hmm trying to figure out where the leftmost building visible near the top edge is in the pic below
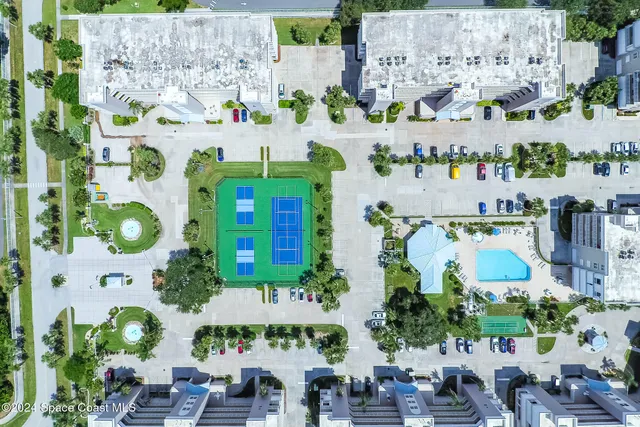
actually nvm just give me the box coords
[73,8,279,124]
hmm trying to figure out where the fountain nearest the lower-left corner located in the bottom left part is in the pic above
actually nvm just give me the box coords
[121,321,144,343]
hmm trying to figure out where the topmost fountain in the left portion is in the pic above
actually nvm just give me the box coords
[119,218,142,241]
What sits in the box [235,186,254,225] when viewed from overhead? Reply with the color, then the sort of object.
blue sports court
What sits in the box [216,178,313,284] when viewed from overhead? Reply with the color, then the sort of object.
green sports court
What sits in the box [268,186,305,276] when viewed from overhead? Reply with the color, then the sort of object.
blue tennis court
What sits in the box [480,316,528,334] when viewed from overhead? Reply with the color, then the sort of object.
green sports court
